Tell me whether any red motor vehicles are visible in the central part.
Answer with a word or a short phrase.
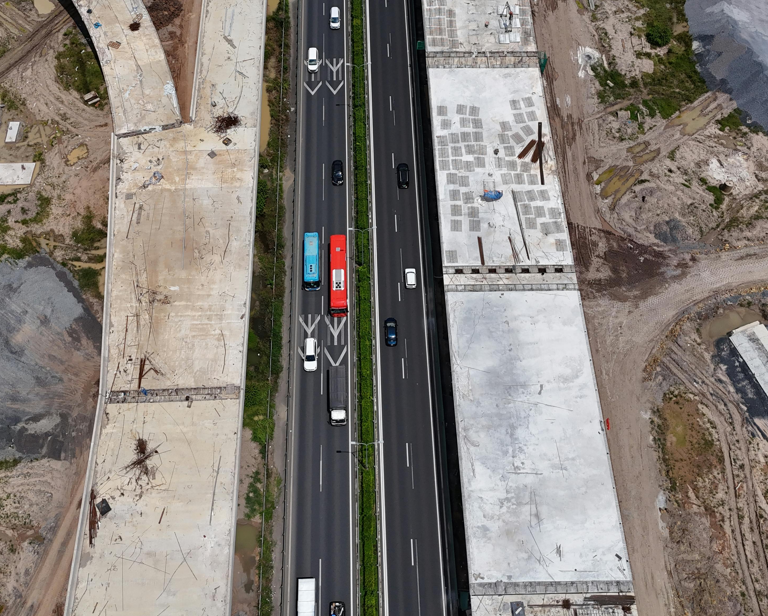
Yes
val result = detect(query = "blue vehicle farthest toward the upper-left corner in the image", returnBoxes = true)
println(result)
[301,233,321,289]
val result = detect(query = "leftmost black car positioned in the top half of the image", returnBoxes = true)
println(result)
[330,161,344,185]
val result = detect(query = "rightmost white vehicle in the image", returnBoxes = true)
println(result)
[403,268,417,290]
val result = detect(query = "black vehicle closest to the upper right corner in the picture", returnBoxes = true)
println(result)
[396,164,409,189]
